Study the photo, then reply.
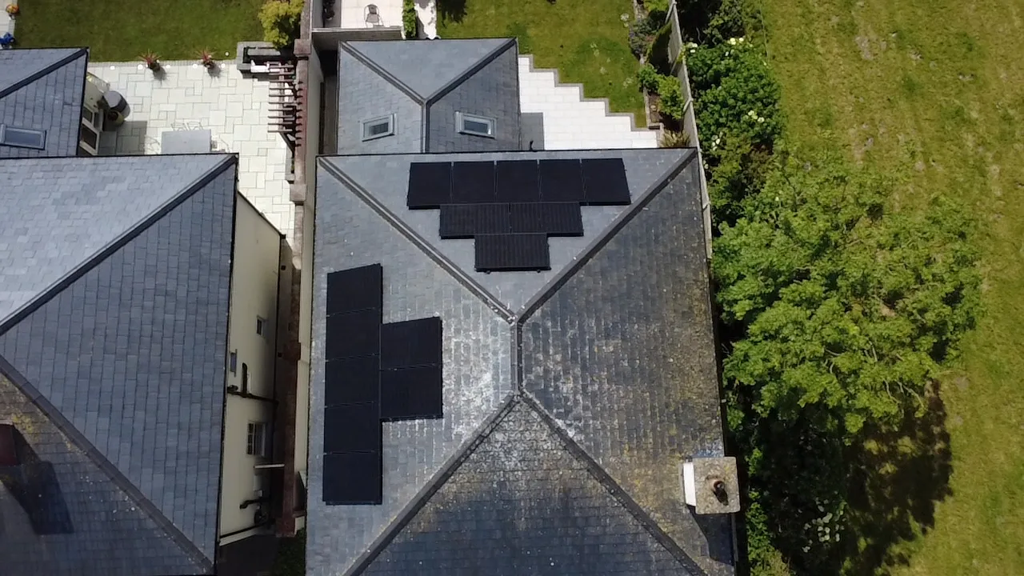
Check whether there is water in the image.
No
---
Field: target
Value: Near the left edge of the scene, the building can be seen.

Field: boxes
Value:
[0,43,284,576]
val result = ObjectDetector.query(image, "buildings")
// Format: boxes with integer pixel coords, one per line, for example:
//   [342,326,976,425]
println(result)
[301,34,745,576]
[0,43,284,576]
